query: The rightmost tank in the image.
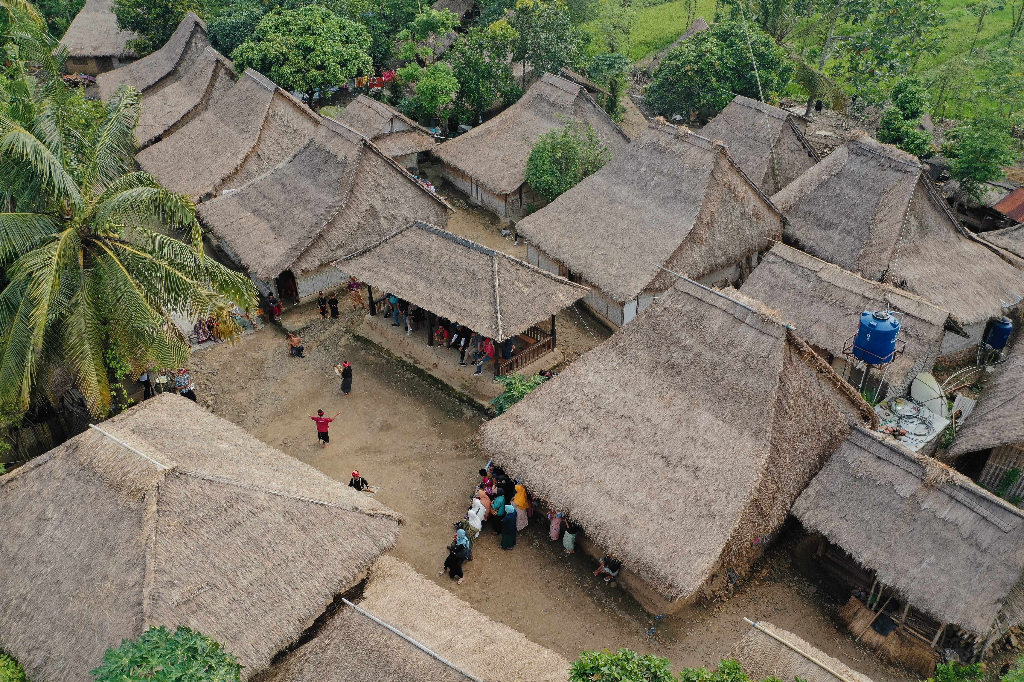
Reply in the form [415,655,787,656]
[972,324,1016,389]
